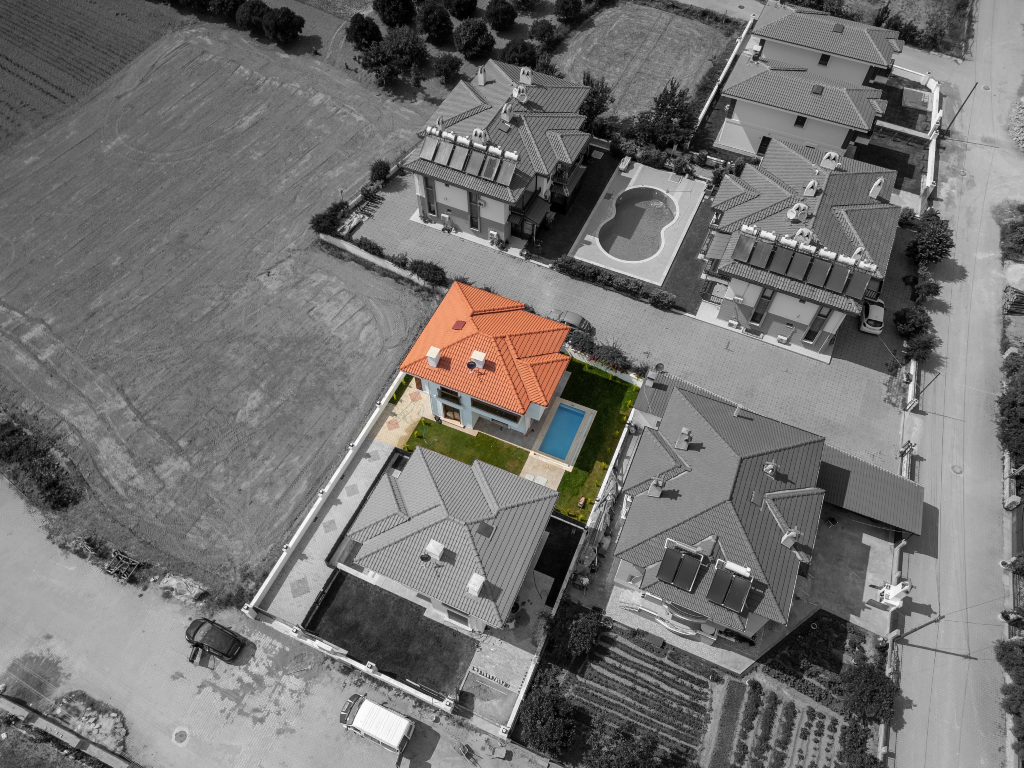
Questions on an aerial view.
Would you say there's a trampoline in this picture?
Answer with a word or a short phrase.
No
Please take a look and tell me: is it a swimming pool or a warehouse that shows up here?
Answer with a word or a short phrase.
swimming pool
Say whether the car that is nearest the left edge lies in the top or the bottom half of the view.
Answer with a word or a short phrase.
bottom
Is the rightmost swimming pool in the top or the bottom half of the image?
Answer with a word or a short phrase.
top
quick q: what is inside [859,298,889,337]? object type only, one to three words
car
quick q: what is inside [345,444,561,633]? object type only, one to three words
house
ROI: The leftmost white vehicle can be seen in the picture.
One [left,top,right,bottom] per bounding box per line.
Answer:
[341,694,422,757]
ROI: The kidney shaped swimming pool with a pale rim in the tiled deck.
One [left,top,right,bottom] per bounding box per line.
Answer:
[568,163,706,286]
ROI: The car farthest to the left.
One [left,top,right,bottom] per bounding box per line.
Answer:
[182,618,248,670]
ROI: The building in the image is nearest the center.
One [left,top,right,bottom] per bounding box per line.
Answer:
[398,279,572,438]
